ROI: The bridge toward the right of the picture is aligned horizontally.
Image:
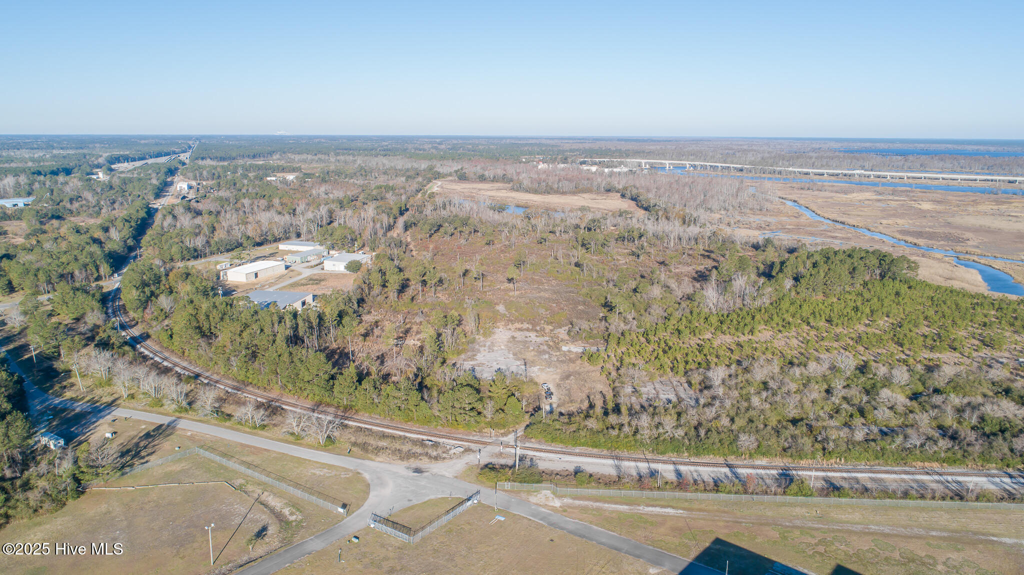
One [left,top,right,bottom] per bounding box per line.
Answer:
[546,159,1024,184]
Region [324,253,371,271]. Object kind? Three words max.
building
